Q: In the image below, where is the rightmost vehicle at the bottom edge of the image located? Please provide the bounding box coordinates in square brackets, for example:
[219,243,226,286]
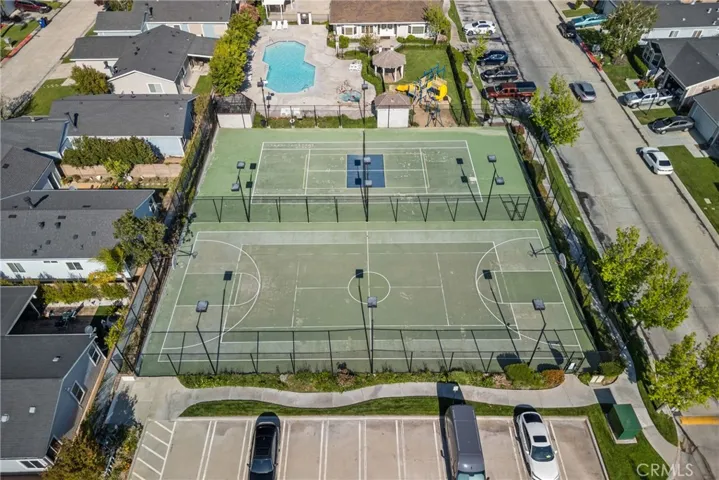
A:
[515,408,558,480]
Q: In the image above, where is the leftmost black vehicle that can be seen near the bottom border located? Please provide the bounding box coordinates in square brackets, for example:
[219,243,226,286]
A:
[243,415,281,480]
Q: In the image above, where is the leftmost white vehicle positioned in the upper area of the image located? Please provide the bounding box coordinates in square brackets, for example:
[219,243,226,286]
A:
[463,22,499,36]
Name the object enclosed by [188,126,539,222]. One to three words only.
tennis court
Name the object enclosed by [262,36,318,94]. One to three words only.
swimming pool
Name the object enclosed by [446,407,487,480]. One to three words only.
van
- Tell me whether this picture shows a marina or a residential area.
residential area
